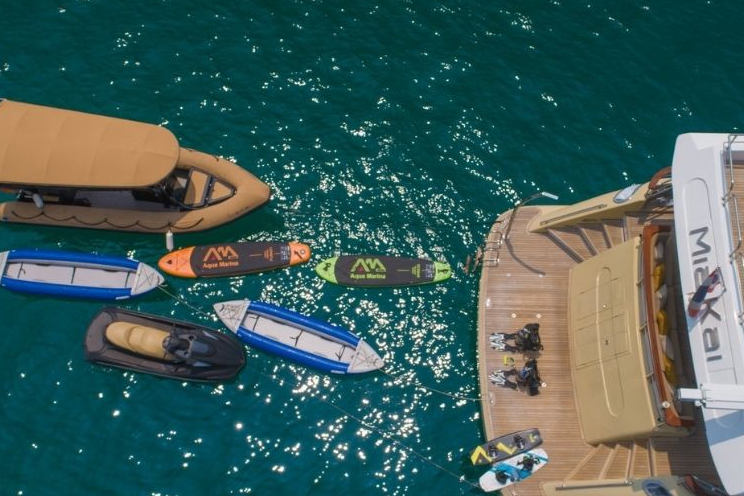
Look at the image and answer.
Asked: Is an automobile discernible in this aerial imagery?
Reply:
No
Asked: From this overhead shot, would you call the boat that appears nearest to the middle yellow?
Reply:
No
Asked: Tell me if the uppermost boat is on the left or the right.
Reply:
left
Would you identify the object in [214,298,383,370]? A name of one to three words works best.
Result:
boat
